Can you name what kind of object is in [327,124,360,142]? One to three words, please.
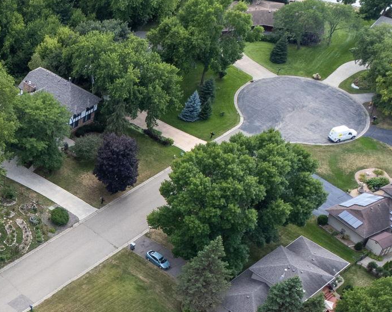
vehicle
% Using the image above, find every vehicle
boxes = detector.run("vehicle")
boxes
[145,251,173,270]
[327,124,360,142]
